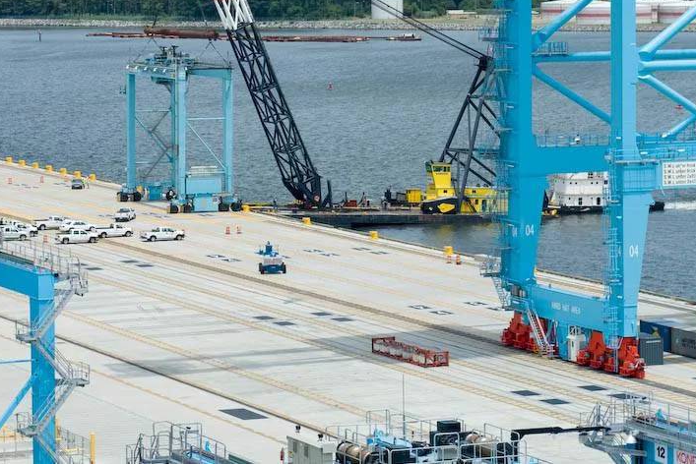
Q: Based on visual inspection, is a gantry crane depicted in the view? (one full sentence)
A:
Yes, the frame does contain a gantry crane.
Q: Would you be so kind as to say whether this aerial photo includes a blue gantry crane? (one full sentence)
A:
Yes, I can see a blue gantry crane in this picture.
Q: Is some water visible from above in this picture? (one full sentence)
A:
Yes, there is water in the image.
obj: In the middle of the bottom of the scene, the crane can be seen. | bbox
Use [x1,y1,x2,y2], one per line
[148,332,650,464]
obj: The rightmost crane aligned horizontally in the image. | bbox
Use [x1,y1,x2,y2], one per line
[533,389,696,464]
